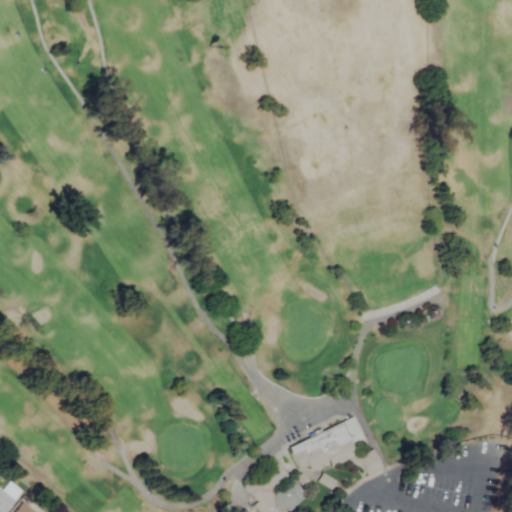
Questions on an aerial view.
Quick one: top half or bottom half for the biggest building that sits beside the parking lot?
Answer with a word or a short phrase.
bottom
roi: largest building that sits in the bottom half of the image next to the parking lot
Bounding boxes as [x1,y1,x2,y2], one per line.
[289,416,366,473]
